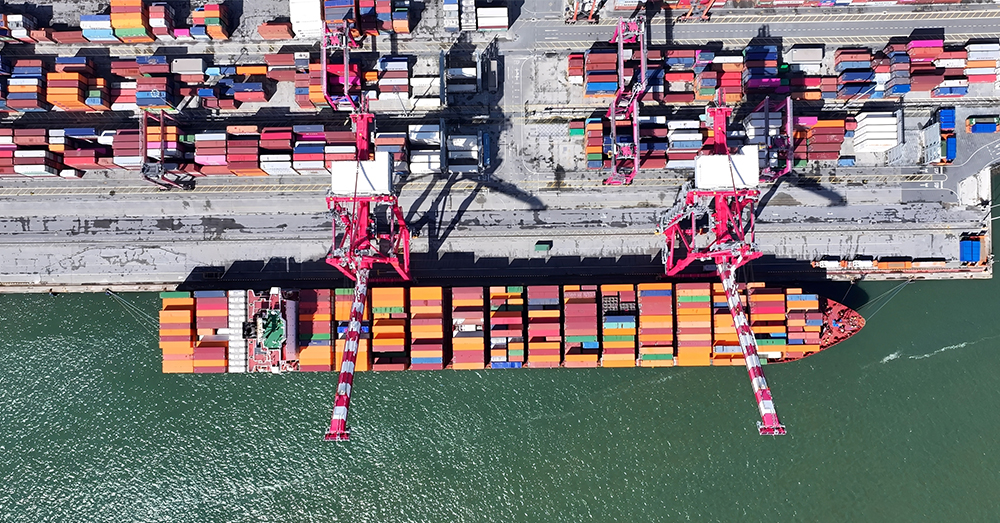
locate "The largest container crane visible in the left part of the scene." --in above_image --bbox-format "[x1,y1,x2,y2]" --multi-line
[316,91,424,441]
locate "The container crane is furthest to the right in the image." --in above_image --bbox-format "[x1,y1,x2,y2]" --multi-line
[742,96,799,183]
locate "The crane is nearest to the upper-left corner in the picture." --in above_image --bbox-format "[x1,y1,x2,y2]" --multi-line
[135,105,196,192]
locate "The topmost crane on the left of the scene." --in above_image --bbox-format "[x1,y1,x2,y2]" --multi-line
[317,20,362,113]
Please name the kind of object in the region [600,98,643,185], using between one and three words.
container crane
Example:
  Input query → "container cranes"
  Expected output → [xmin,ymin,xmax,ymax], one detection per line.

[681,0,719,21]
[600,98,643,185]
[316,91,424,441]
[650,85,791,436]
[742,96,799,183]
[317,20,362,113]
[605,18,648,109]
[135,105,196,192]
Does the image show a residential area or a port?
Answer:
port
